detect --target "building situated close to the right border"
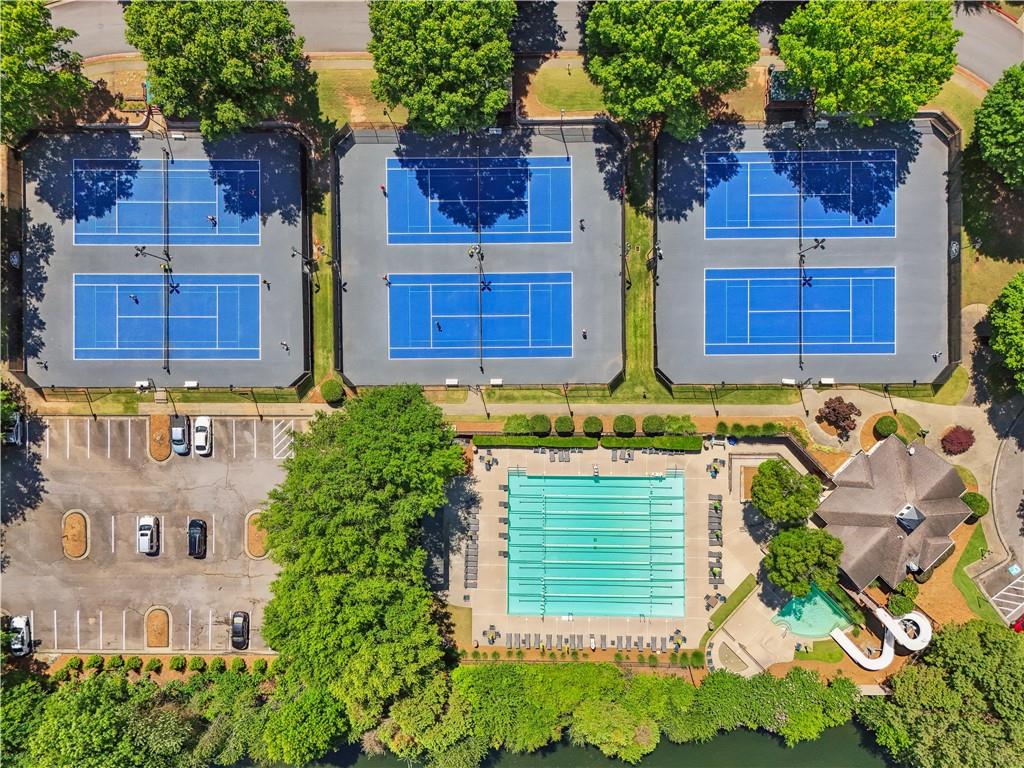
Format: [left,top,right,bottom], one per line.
[810,432,973,591]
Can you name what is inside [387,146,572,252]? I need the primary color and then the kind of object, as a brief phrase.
blue tennis court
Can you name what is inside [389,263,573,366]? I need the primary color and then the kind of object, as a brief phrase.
blue tennis court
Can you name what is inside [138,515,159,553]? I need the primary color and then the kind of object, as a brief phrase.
white car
